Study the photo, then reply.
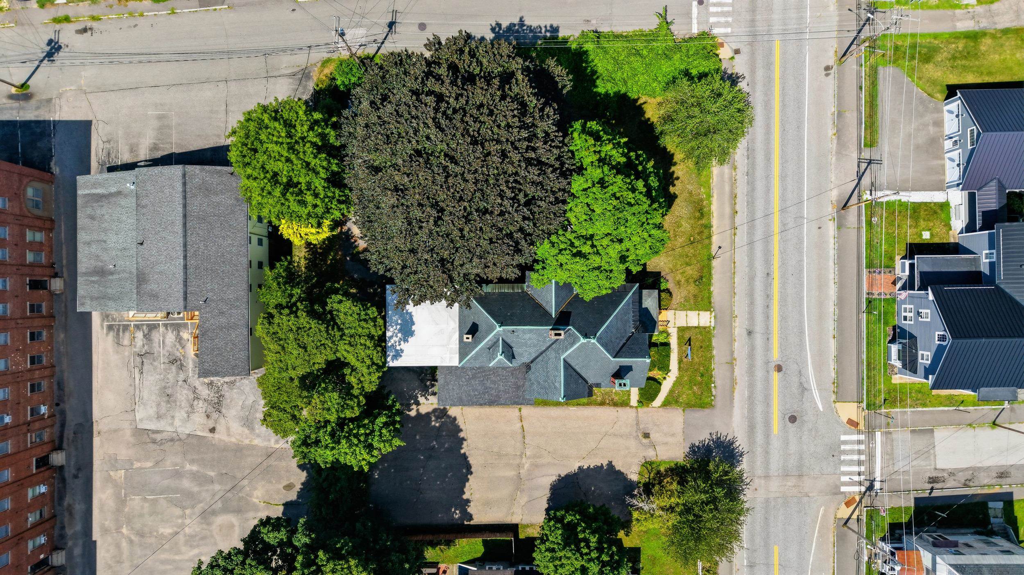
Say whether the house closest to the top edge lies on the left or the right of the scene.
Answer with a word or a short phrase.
right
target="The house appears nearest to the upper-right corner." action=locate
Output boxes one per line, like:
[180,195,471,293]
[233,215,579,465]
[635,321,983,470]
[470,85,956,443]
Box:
[944,89,1024,190]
